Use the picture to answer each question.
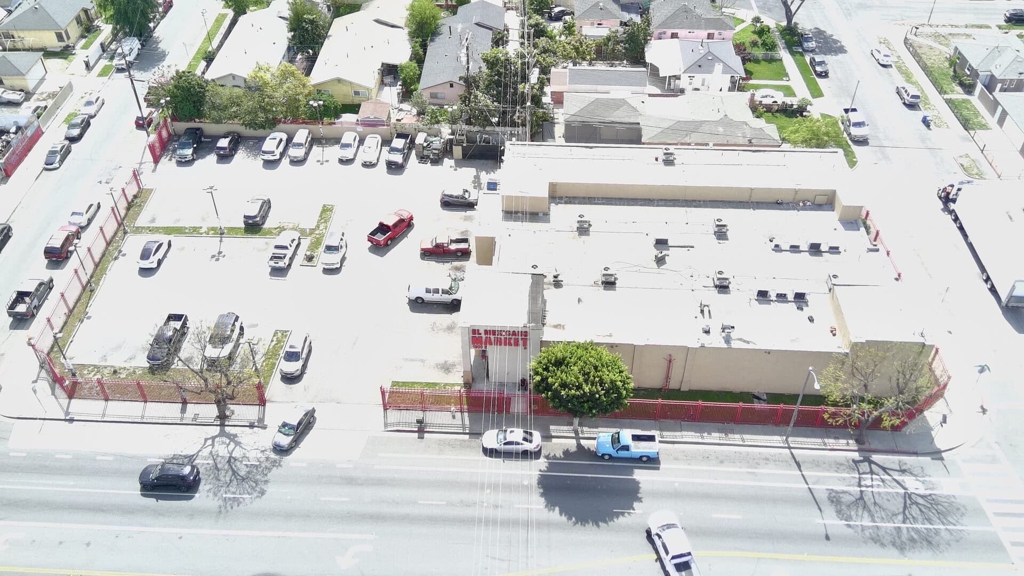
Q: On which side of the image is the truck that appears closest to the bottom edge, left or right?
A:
right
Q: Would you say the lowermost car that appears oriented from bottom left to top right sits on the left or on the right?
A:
left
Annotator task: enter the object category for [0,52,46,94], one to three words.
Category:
building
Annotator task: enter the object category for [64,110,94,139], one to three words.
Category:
car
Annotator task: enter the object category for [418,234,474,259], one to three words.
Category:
truck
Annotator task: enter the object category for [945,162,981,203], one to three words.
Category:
vehicle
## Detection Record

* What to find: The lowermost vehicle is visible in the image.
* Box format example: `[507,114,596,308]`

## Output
[650,522,703,576]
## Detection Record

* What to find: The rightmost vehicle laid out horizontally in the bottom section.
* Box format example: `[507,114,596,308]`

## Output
[594,432,662,462]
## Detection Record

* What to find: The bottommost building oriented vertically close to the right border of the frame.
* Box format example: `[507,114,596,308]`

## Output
[995,94,1024,160]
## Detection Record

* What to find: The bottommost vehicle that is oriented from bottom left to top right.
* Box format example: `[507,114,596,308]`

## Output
[270,403,323,453]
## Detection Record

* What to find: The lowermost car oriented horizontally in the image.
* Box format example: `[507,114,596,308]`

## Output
[137,462,204,493]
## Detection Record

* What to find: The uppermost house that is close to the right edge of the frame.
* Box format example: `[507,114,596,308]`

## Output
[955,42,1024,93]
